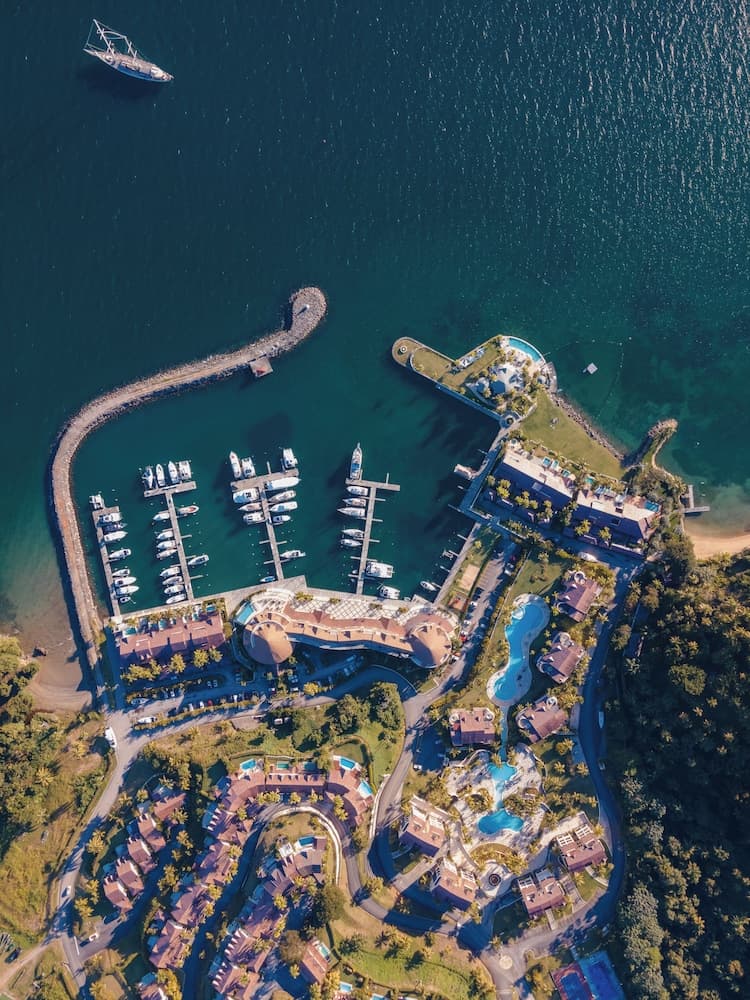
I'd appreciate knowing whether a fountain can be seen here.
Yes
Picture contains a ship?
Yes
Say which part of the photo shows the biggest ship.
top left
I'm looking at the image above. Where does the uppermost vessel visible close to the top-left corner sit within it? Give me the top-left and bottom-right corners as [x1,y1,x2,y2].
[81,22,167,84]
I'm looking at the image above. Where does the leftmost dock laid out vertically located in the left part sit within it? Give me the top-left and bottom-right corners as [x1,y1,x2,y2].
[92,505,120,614]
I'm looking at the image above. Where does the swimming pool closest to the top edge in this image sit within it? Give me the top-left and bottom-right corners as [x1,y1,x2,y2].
[507,338,545,368]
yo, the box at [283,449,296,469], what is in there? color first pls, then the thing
white boat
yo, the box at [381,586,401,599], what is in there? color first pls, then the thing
white boat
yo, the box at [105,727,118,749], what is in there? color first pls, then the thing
white vehicle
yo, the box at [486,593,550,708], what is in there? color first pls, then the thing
blue swimming pool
